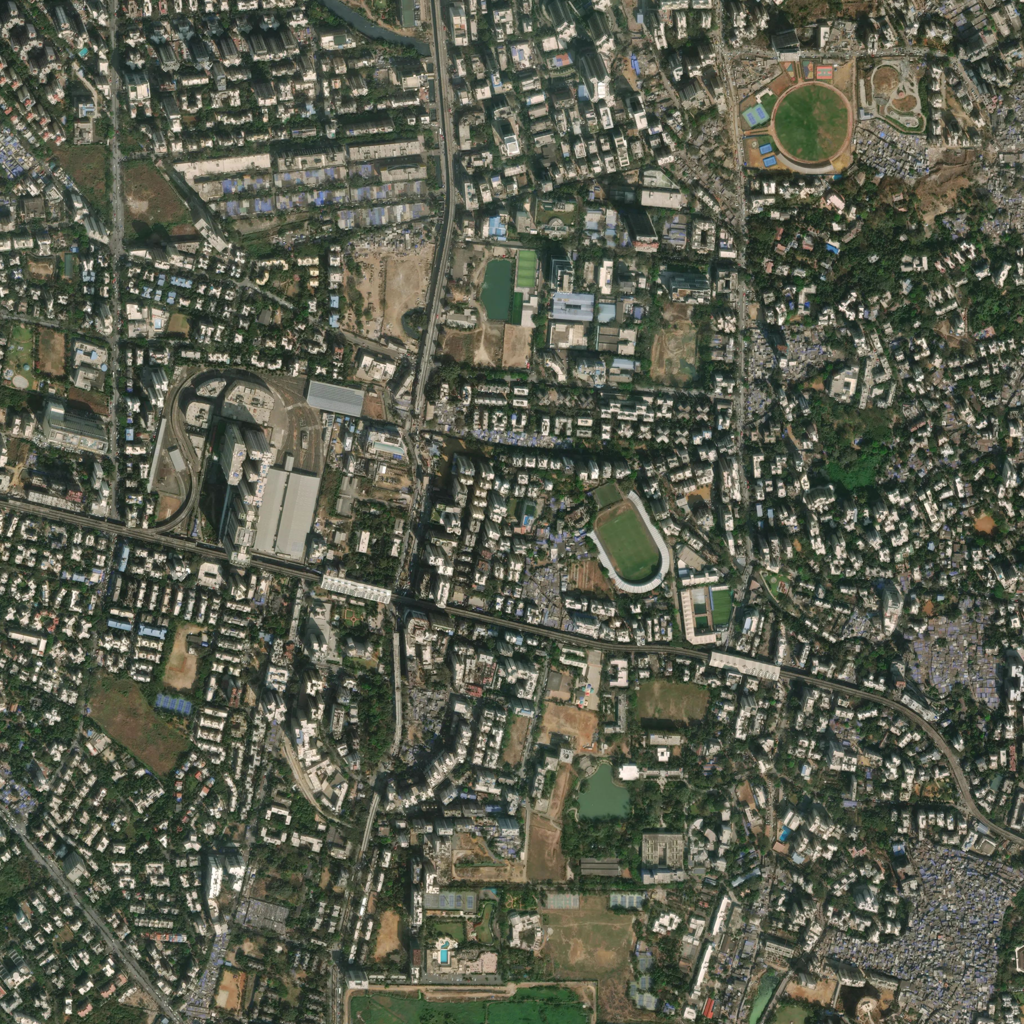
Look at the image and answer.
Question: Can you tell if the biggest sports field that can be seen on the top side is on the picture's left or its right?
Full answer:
The biggest sports field that can be seen on the top side is on the right side of the image.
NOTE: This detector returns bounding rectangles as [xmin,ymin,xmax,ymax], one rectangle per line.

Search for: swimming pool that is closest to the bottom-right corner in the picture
[777,821,793,843]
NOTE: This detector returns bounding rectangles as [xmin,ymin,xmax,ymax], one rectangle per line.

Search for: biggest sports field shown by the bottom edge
[541,910,634,983]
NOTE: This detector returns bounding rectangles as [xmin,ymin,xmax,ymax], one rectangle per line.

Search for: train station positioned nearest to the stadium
[709,651,780,678]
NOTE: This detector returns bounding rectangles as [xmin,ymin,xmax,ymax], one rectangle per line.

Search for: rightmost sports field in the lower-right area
[785,976,837,1009]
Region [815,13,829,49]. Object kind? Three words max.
building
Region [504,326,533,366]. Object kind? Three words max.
sports field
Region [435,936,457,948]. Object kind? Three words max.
swimming pool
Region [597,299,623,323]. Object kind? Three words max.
shed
